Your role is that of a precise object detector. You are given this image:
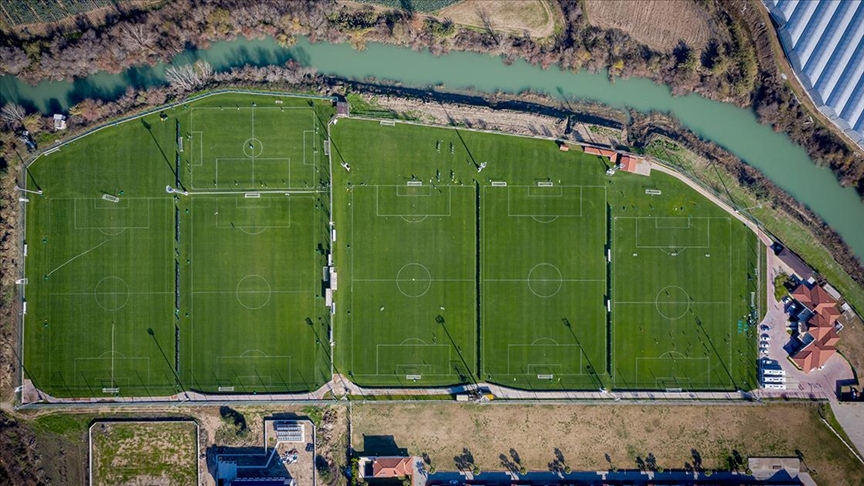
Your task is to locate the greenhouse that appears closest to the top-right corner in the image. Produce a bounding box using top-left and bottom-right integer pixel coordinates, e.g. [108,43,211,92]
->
[764,0,864,150]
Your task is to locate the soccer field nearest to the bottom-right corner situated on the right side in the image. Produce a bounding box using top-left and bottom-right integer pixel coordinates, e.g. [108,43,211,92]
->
[613,215,733,392]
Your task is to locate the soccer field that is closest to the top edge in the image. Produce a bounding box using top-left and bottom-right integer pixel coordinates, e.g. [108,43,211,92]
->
[189,105,318,191]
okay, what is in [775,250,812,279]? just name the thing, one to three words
shed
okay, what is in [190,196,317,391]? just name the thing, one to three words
soccer field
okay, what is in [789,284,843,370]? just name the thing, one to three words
building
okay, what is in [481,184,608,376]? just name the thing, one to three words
soccer field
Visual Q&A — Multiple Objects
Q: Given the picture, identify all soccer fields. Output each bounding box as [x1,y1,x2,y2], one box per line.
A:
[48,197,175,391]
[189,105,318,191]
[613,215,733,392]
[351,184,478,376]
[481,184,608,376]
[190,196,317,391]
